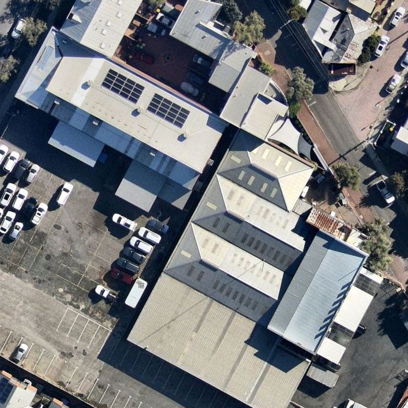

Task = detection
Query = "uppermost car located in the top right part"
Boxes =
[390,5,406,27]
